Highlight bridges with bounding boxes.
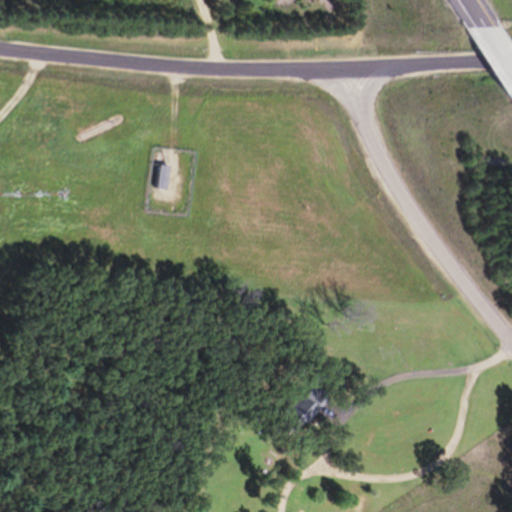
[463,20,512,101]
